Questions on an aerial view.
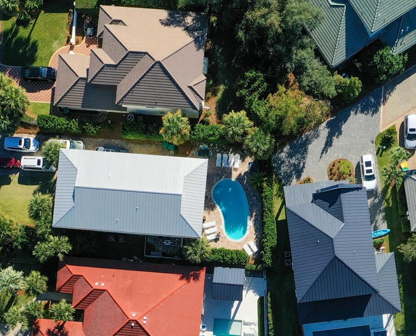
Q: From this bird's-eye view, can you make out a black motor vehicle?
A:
Yes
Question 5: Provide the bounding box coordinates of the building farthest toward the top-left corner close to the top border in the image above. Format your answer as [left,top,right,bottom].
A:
[53,4,210,118]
